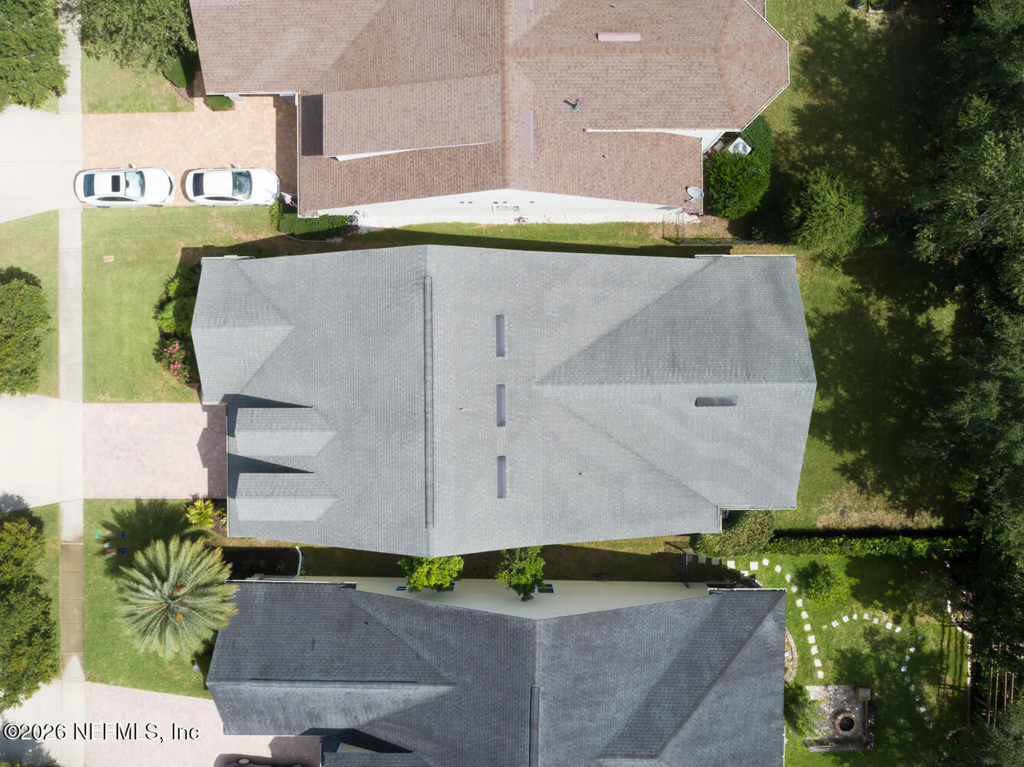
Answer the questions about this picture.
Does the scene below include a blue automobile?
No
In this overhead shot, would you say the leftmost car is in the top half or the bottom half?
top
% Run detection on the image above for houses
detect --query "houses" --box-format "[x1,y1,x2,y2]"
[191,245,817,558]
[189,0,792,221]
[207,574,789,767]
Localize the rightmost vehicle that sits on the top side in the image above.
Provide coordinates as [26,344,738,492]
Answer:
[185,167,281,208]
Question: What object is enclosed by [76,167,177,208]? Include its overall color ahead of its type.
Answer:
white car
